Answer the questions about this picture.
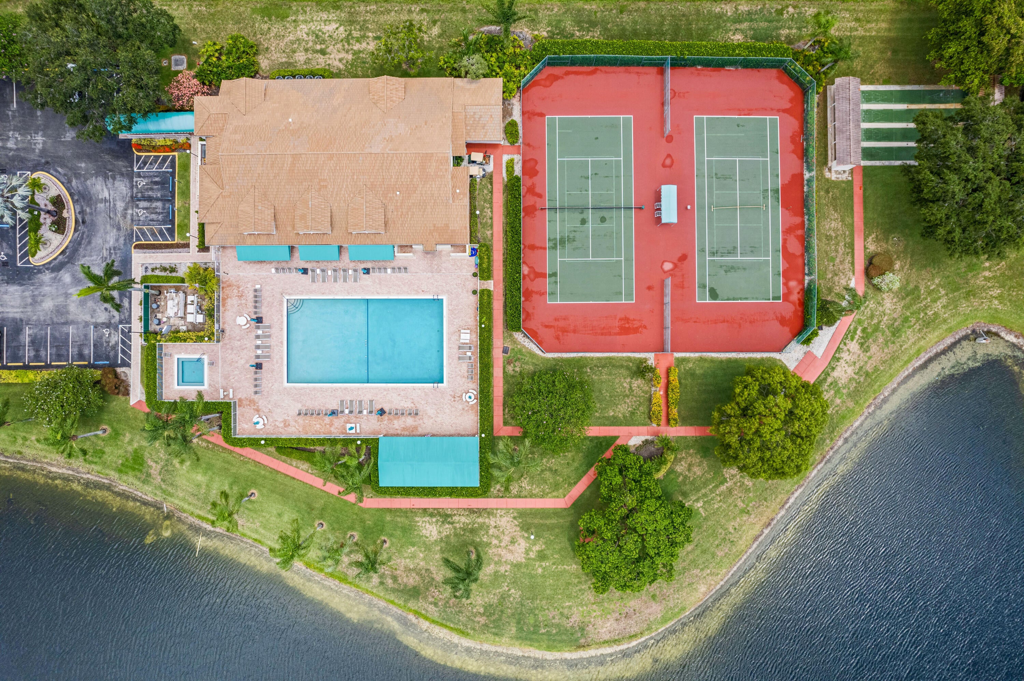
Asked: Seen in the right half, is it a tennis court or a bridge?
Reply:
tennis court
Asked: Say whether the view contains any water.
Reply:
Yes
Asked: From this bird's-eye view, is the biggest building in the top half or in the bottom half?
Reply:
top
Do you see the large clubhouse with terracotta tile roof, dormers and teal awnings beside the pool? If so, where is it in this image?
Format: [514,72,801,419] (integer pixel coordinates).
[194,75,504,260]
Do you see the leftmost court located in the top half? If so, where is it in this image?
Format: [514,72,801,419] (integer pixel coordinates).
[522,66,664,352]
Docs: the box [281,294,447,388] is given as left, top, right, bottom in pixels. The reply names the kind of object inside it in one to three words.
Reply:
swimming pool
